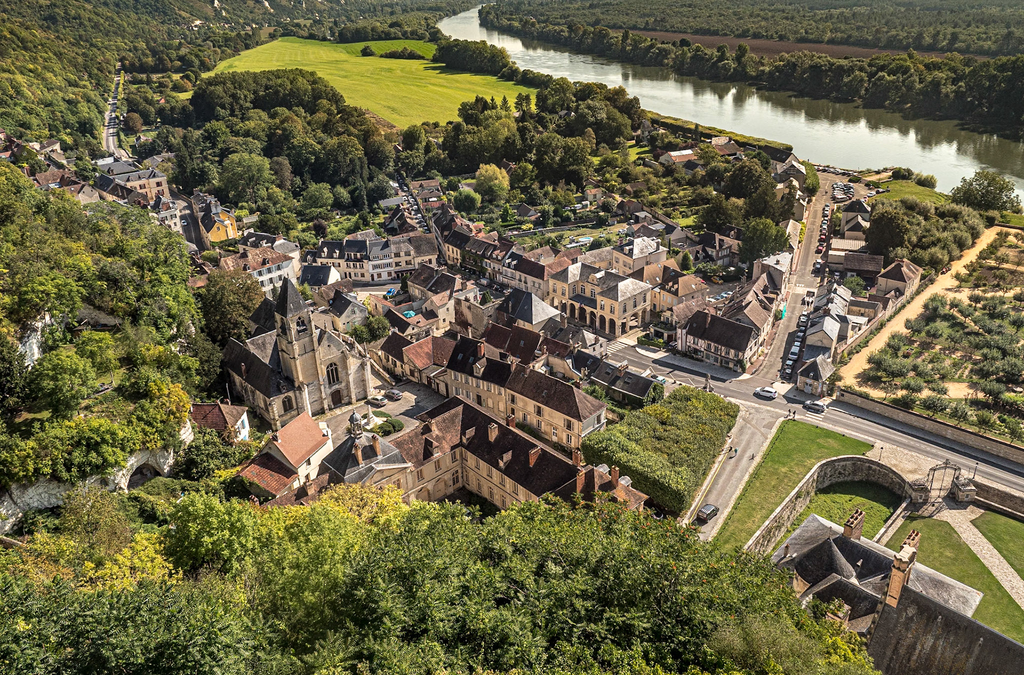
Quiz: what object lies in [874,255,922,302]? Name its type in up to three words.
house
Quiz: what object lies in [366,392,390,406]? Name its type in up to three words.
car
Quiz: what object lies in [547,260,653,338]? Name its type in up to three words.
building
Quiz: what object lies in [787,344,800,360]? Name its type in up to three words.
vehicle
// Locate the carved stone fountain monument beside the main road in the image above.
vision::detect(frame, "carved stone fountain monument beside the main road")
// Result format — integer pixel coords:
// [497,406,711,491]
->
[699,370,717,392]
